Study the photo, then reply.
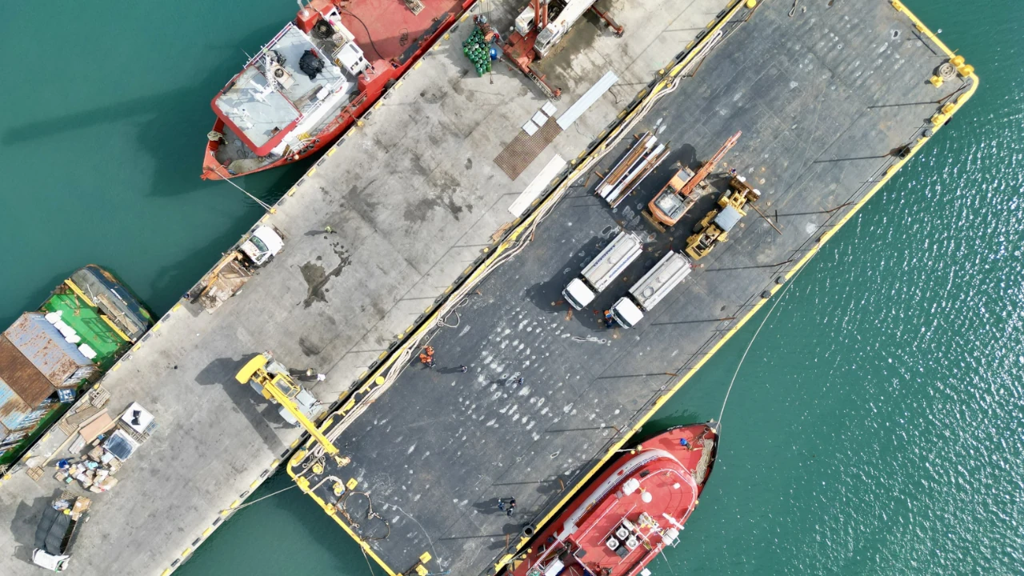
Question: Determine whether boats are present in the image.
Yes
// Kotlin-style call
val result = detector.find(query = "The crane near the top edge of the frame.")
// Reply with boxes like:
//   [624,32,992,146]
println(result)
[474,0,624,103]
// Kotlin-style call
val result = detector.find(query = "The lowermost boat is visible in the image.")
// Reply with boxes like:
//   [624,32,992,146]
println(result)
[493,422,724,576]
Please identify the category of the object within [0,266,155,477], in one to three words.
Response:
boat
